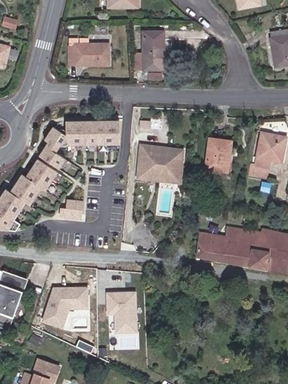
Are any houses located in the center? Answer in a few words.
Yes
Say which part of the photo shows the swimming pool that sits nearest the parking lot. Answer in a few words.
center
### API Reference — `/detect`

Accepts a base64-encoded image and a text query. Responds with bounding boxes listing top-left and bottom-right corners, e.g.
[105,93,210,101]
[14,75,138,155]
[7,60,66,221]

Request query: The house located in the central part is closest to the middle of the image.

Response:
[136,140,185,184]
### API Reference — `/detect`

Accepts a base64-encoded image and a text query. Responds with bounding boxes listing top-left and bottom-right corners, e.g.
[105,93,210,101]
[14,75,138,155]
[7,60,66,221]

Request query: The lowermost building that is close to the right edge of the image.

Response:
[198,224,288,274]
